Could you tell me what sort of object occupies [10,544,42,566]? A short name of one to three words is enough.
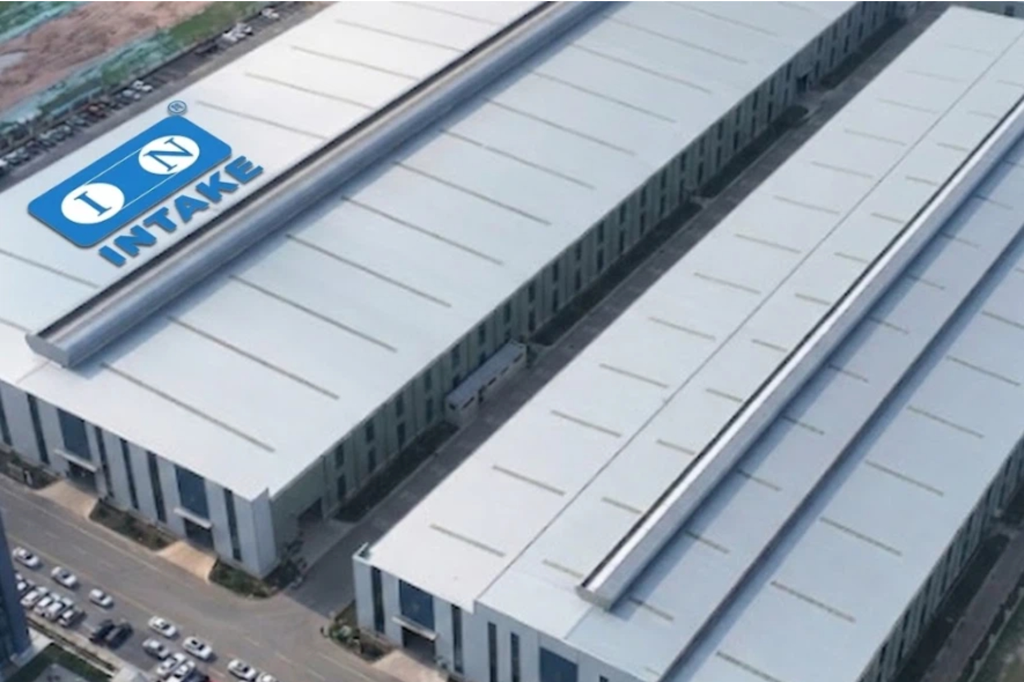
car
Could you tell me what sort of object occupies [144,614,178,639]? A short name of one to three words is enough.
car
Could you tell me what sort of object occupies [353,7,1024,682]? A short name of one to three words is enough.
building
